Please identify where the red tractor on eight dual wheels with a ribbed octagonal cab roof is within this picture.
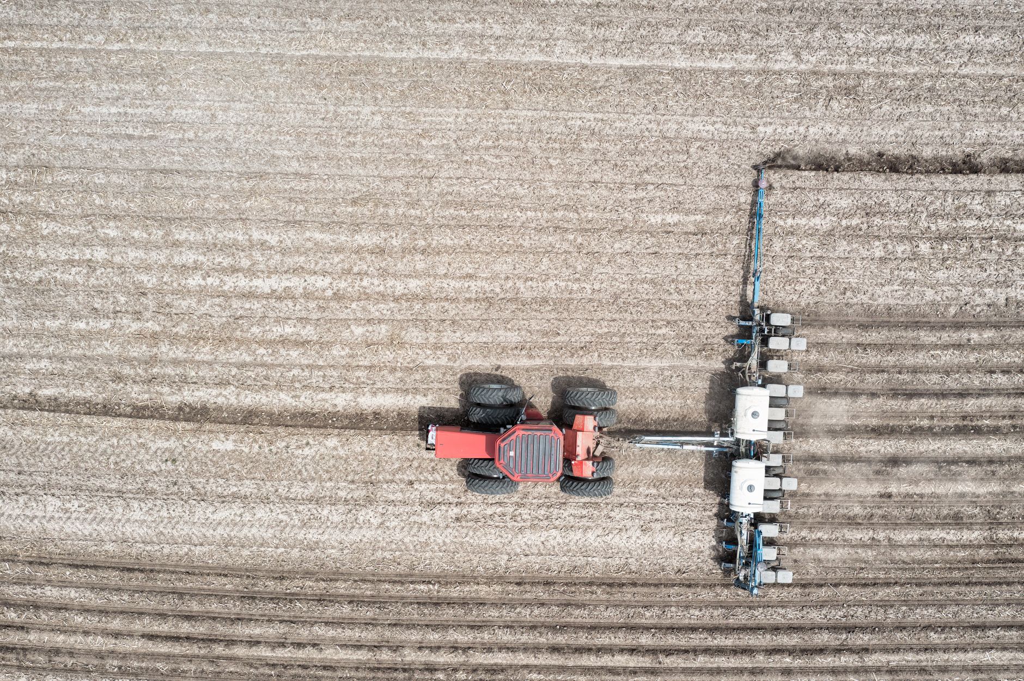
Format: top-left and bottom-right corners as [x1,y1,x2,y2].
[425,383,630,496]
